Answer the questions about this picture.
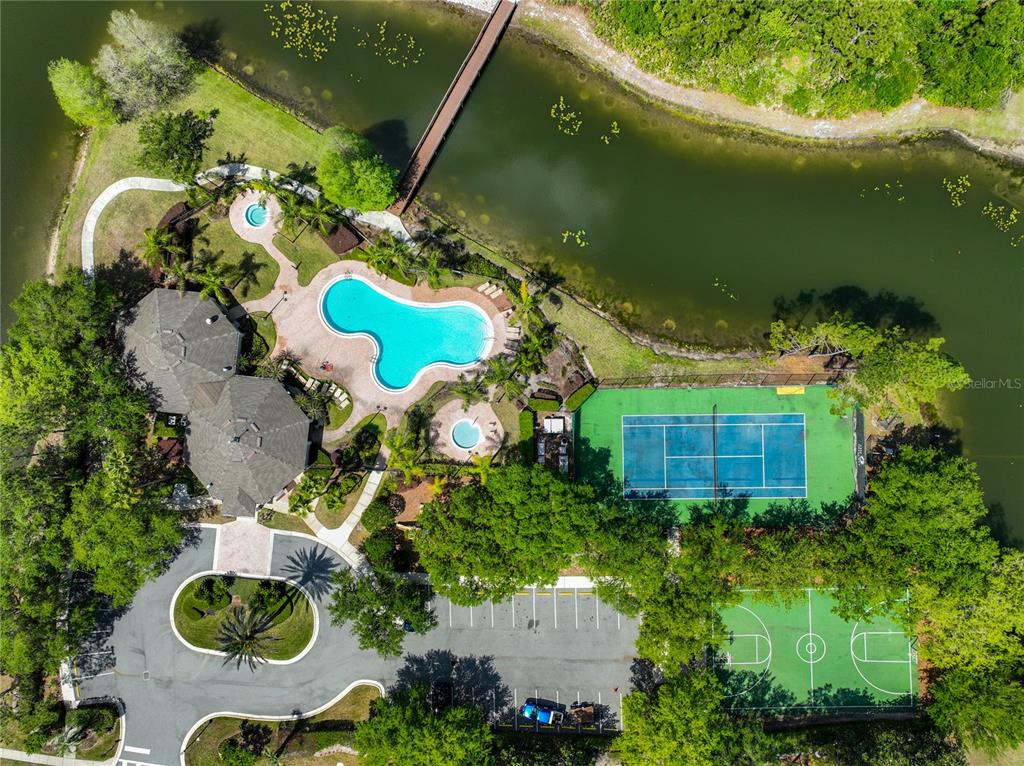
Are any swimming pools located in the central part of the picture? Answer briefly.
Yes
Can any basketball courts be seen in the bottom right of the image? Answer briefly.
Yes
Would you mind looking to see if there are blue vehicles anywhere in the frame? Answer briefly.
Yes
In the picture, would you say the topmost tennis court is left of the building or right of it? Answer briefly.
on the right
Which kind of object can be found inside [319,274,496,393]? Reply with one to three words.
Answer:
swimming pool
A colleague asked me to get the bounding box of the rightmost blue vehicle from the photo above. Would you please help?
[517,703,567,729]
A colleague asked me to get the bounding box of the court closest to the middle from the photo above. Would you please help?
[575,385,858,527]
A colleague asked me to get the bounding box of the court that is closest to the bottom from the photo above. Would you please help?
[704,580,919,715]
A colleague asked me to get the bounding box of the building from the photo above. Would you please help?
[110,287,311,522]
